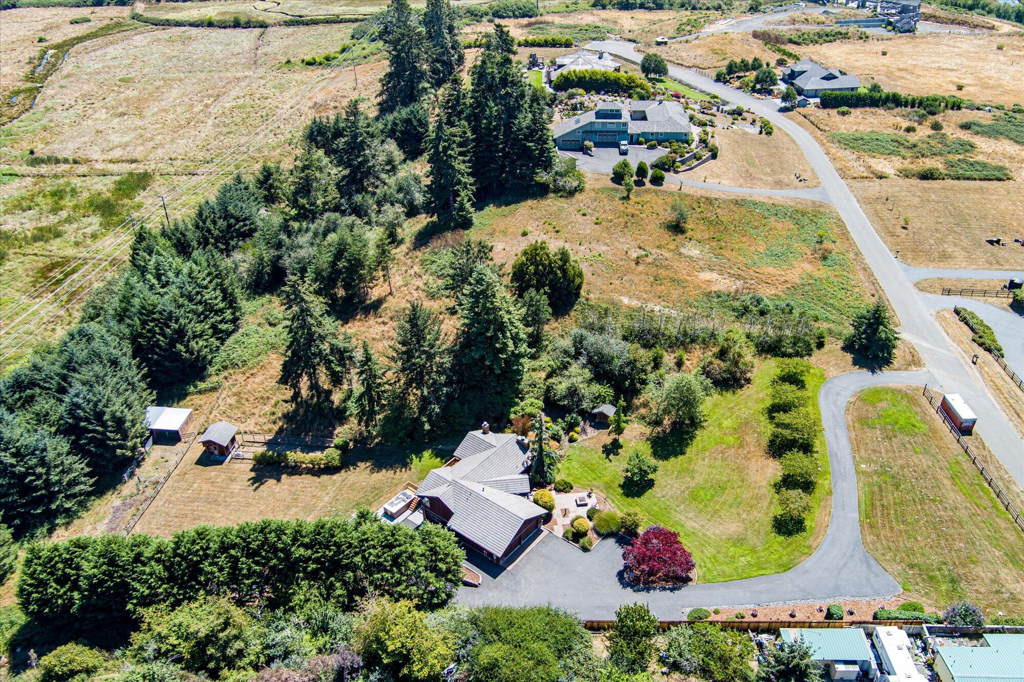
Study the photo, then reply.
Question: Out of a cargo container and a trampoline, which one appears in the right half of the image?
cargo container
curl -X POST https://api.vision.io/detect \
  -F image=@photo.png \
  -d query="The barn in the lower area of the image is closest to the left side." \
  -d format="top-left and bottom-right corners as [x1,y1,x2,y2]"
[146,403,200,444]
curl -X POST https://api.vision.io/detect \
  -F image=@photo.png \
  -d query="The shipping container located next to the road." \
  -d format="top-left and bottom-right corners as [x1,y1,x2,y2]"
[940,394,979,432]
